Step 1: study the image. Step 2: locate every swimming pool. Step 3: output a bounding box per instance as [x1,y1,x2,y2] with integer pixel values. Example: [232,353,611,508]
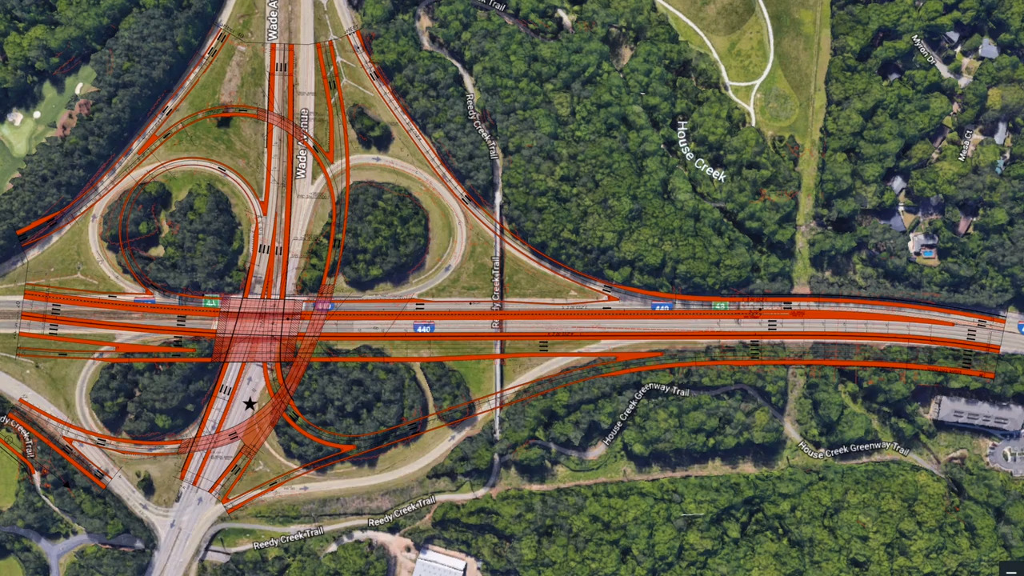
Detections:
[919,244,937,261]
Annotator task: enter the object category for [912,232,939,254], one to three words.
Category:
house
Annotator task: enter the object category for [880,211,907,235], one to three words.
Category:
house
